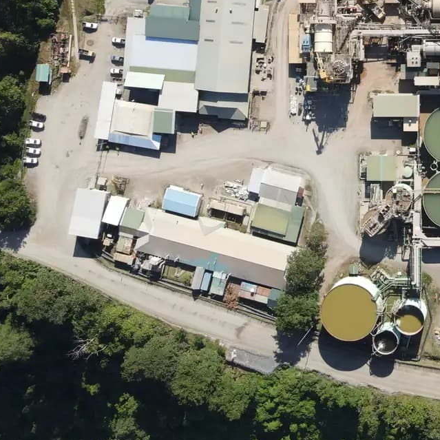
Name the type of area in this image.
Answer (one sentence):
This looks like an industrial area.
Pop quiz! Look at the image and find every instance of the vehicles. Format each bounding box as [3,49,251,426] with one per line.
[109,55,125,62]
[81,22,98,29]
[29,120,45,128]
[77,48,95,56]
[110,37,126,44]
[24,147,41,155]
[24,139,41,145]
[108,68,124,75]
[31,114,46,122]
[22,157,39,165]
